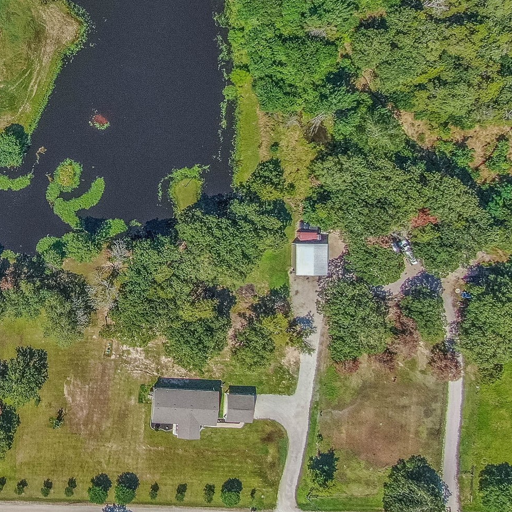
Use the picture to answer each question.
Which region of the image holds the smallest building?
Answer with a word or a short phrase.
bottom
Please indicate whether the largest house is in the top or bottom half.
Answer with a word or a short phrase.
bottom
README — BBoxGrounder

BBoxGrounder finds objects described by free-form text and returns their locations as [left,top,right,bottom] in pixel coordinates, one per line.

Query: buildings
[288,244,328,276]
[225,393,255,423]
[152,386,221,441]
